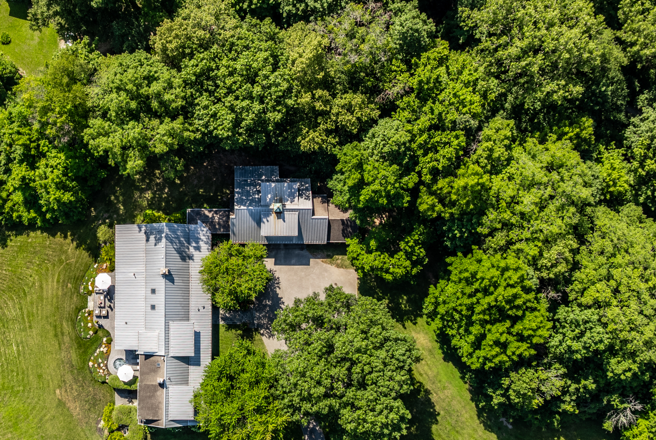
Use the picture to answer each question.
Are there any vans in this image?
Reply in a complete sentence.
No, no van is visible in the scene.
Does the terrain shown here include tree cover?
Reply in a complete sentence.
Yes, the picture does contain tree cover.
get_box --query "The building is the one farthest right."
[230,165,360,244]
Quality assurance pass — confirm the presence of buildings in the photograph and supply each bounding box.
[114,222,213,428]
[230,165,360,244]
